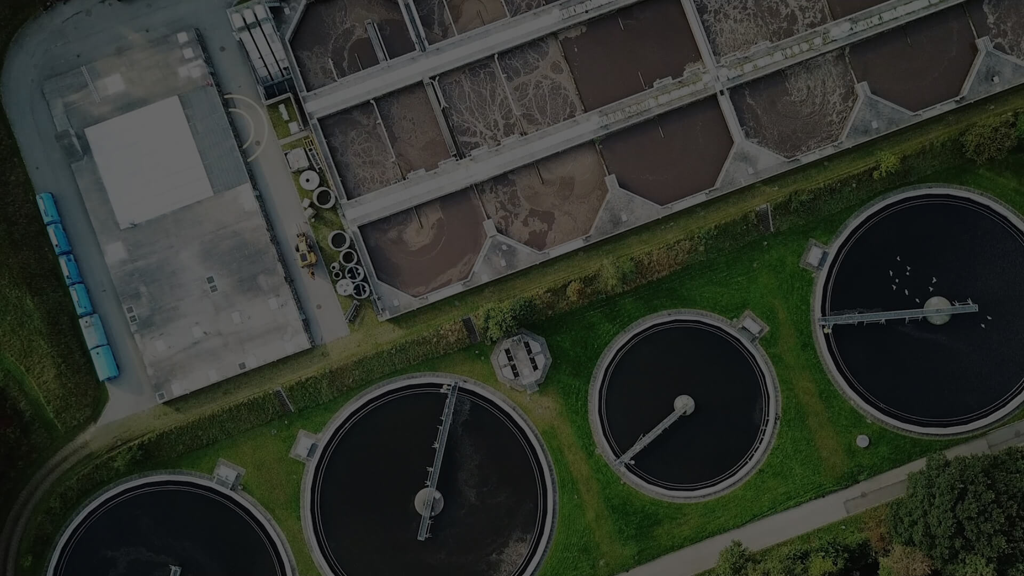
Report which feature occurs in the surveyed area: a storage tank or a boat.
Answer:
storage tank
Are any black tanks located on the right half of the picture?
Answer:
Yes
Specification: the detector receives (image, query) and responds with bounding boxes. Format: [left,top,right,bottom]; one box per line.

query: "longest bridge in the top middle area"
[423,78,458,157]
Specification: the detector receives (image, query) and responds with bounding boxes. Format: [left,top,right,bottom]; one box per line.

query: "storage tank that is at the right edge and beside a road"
[801,183,1024,438]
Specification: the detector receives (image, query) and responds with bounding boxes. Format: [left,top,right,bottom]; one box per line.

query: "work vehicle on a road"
[293,220,321,275]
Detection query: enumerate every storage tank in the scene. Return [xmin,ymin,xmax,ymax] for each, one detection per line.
[293,371,559,576]
[801,183,1024,438]
[587,308,781,502]
[50,463,298,576]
